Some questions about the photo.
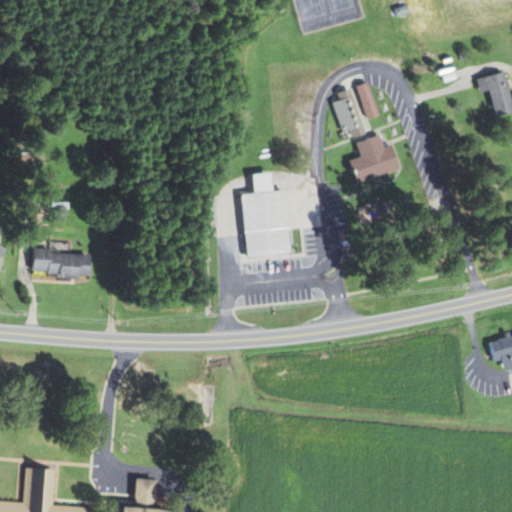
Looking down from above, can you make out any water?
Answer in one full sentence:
No, there's no water in this view.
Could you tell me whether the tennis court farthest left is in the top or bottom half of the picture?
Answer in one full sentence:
The tennis court farthest left is in the top half of the image.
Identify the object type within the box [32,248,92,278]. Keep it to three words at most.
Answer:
house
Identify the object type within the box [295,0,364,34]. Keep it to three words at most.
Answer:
tennis court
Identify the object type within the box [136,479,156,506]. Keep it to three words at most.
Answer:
building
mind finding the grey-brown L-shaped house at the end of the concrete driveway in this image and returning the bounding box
[476,71,512,114]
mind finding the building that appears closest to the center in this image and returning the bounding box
[242,172,292,257]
